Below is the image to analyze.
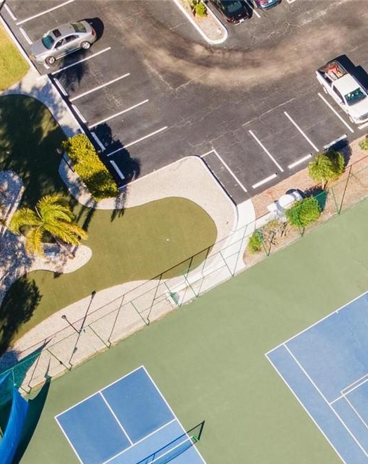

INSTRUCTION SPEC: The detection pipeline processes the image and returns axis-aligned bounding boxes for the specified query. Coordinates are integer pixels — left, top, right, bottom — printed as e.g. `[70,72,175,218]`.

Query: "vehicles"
[204,0,246,26]
[31,22,97,63]
[246,0,276,14]
[317,60,368,122]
